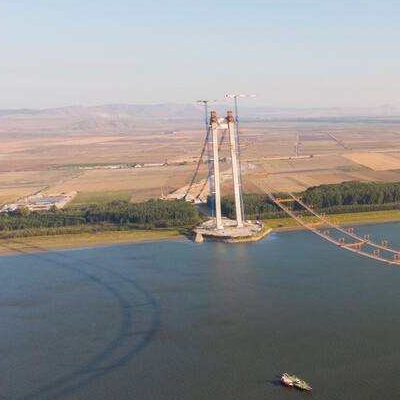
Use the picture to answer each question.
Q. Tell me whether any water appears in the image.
Yes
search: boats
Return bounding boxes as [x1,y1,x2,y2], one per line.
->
[278,376,296,389]
[289,377,315,390]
